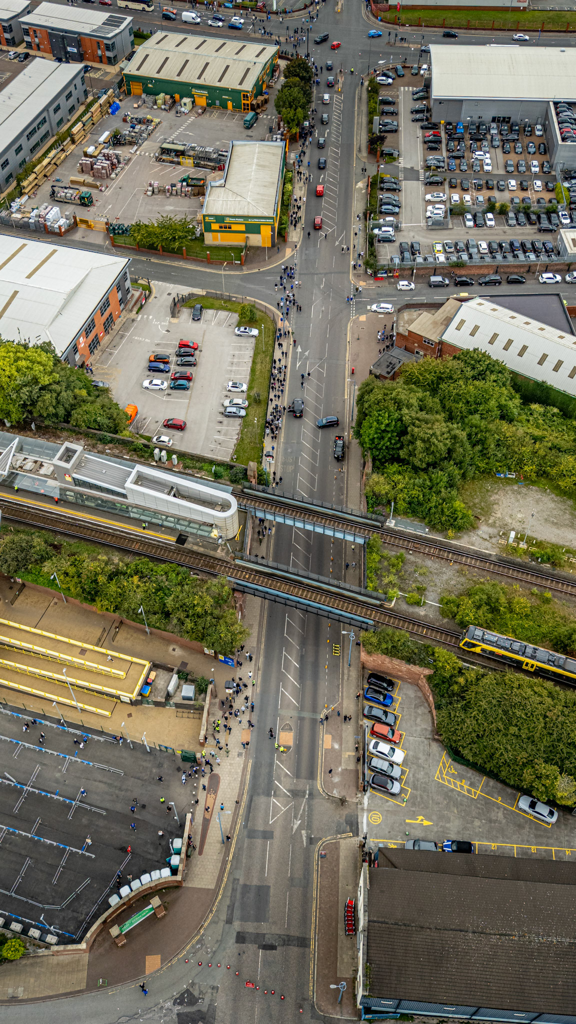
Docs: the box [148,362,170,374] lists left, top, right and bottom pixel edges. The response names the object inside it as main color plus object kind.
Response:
blue vehicle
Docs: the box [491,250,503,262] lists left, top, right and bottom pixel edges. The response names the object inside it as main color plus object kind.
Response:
gray vehicle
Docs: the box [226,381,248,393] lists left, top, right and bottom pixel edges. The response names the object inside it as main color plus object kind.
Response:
white vehicle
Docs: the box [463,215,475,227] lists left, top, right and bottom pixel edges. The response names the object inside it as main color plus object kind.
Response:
white vehicle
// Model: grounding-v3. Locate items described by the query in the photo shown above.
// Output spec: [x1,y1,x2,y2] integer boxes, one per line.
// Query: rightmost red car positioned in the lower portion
[370,724,400,746]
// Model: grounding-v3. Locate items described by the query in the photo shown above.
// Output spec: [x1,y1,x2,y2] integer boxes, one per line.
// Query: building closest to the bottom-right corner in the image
[360,848,576,1024]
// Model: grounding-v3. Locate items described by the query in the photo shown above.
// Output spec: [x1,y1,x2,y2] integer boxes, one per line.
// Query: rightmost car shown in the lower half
[519,799,557,824]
